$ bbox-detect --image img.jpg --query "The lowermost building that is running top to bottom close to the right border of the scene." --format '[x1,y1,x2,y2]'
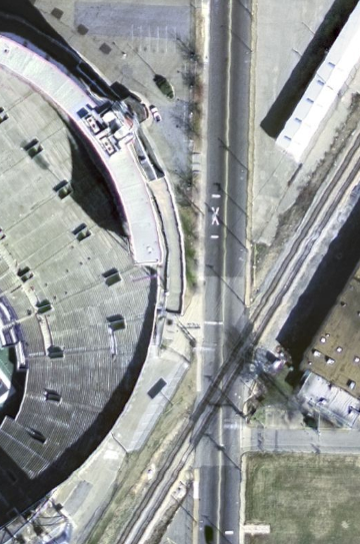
[297,263,360,402]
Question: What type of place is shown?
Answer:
sports ground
